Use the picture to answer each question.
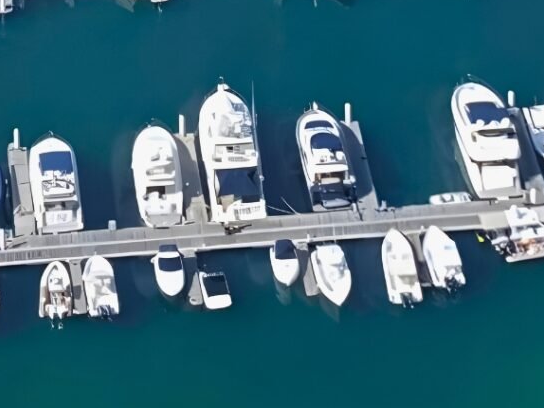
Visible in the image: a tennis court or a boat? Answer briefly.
boat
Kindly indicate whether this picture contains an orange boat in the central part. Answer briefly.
No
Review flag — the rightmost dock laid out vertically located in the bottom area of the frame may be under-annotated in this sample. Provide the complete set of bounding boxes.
[408,232,431,287]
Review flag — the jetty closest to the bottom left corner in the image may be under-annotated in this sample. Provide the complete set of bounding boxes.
[70,261,86,316]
